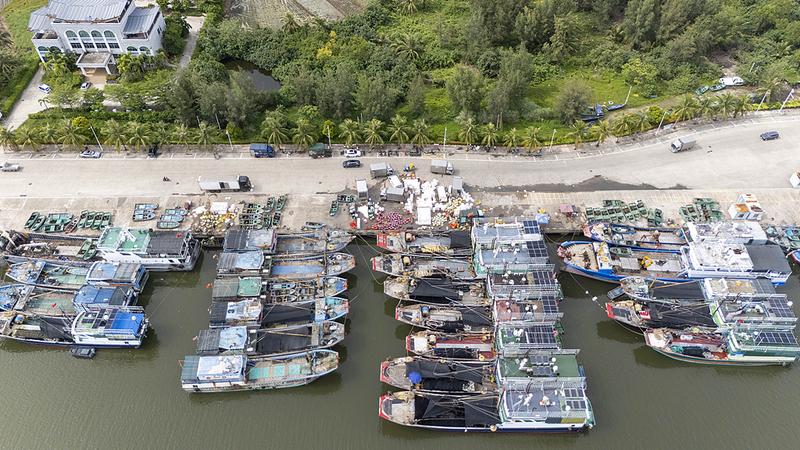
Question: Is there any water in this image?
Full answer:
Yes, the picture does contain water.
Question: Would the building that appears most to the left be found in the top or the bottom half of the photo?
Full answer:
Seen from above, the building that appears most to the left lies in the top half of the view.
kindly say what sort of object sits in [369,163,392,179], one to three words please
vehicle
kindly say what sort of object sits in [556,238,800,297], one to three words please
boat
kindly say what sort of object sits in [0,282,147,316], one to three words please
boat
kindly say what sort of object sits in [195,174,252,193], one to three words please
vehicle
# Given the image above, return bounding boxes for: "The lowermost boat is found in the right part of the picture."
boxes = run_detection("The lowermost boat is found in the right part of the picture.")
[379,377,608,436]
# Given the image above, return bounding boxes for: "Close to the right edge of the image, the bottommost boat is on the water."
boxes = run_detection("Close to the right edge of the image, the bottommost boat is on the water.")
[643,320,800,370]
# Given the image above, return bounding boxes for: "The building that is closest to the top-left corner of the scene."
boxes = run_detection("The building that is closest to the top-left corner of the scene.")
[26,0,175,77]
